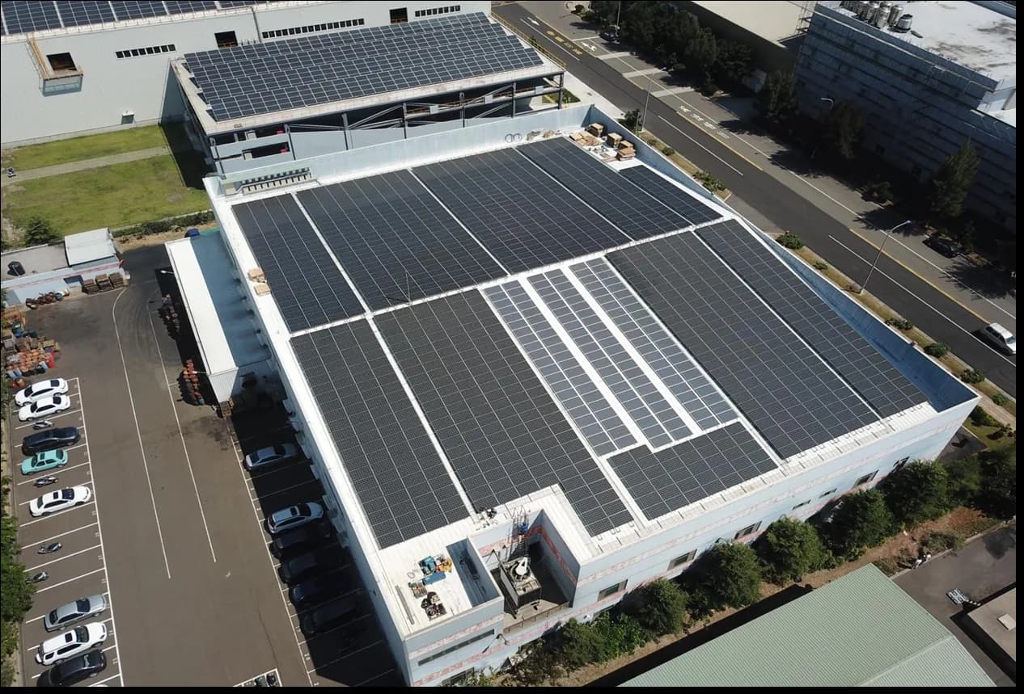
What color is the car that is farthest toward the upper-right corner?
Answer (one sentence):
The color of the car that is farthest toward the upper-right corner is black.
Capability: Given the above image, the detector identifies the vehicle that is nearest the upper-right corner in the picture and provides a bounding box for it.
[924,235,961,257]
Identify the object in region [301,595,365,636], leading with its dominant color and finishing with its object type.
black car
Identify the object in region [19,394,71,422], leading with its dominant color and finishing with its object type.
white car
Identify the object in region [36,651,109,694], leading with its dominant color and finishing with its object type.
black car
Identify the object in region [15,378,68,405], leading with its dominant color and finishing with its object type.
white car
